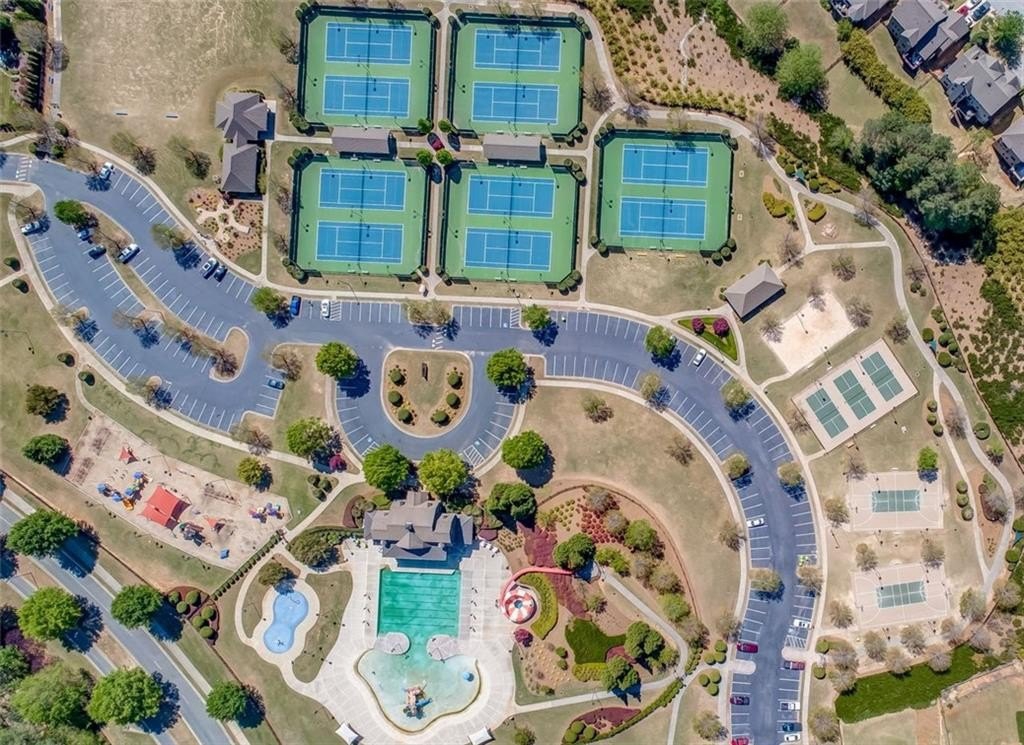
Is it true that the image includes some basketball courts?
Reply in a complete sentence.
Yes, there's a basketball court here.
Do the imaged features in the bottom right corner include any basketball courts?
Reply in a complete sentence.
Yes, a basketball court appears in the bottom right corner.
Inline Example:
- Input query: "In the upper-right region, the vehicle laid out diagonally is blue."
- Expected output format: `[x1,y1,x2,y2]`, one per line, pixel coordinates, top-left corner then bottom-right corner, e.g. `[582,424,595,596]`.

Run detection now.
[974,2,990,19]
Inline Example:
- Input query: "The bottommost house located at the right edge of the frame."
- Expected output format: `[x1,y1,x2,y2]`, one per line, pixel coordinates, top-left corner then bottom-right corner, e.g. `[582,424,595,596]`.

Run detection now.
[977,112,1024,189]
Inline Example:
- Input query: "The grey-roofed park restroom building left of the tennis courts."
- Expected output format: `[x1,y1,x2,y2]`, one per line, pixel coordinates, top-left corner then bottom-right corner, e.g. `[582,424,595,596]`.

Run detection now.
[216,94,270,193]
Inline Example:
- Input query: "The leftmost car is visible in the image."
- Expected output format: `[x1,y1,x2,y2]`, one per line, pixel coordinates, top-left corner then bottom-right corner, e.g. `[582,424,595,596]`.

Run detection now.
[20,221,39,234]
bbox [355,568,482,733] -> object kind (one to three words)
swimming pool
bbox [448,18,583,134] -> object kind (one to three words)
tennis court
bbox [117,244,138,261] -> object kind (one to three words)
vehicle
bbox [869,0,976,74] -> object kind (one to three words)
house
